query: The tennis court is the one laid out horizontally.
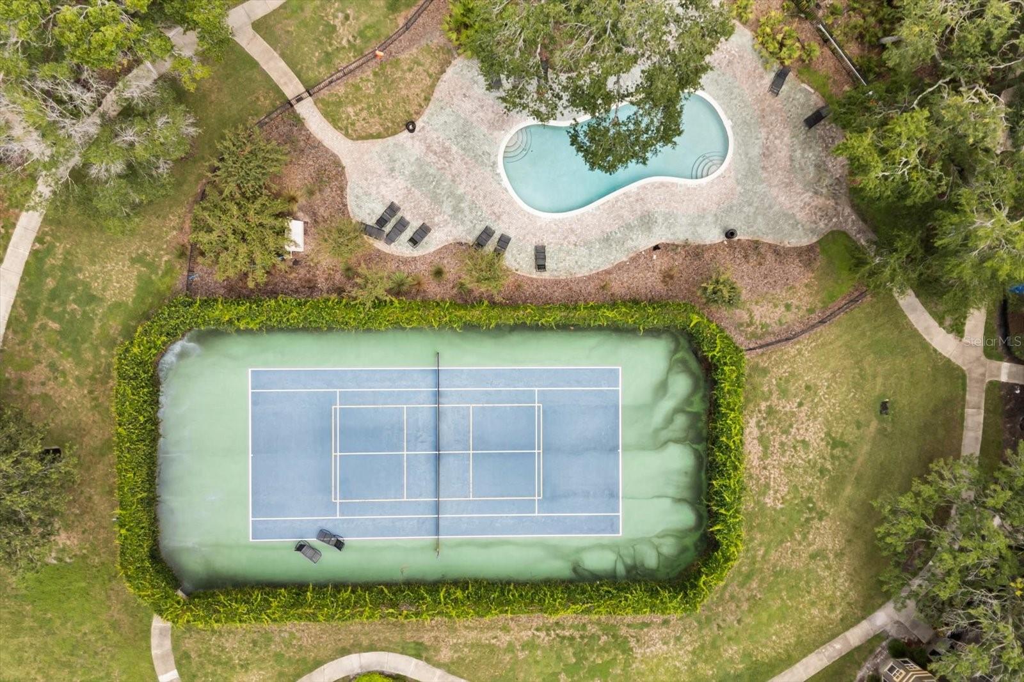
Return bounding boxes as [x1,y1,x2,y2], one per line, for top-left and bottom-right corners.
[155,325,711,591]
